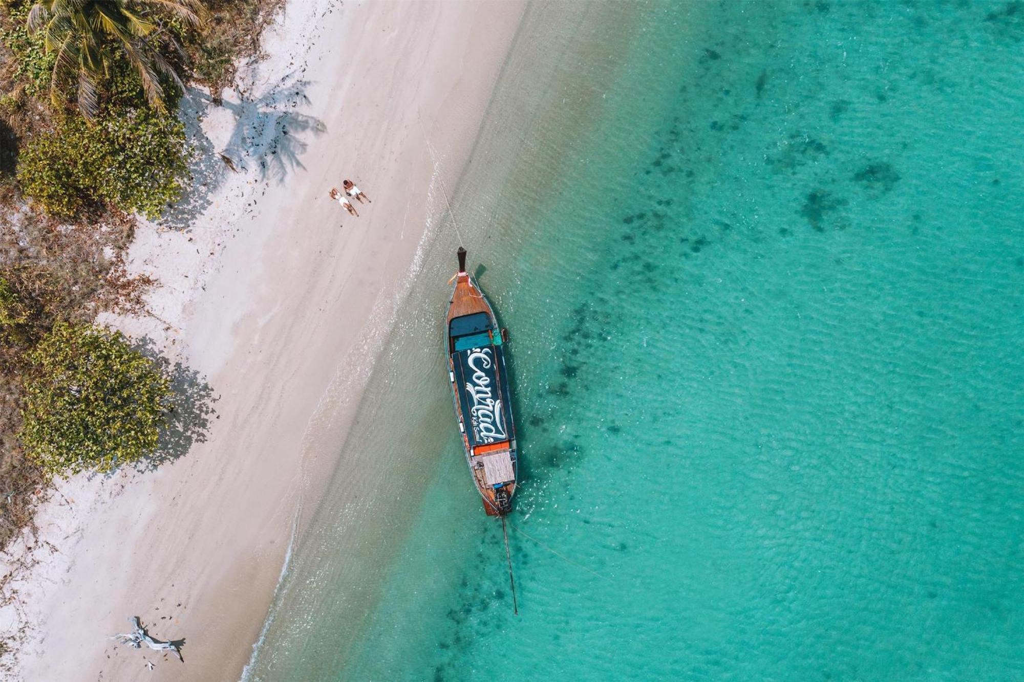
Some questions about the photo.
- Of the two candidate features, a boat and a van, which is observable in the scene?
boat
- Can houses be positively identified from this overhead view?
No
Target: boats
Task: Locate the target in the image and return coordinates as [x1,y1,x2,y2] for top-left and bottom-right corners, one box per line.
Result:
[443,248,521,614]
